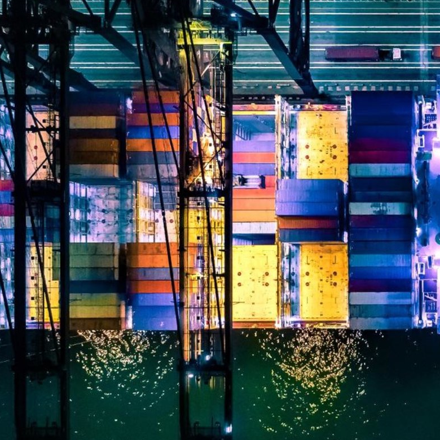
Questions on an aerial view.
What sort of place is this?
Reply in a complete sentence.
The area seen from above is a port.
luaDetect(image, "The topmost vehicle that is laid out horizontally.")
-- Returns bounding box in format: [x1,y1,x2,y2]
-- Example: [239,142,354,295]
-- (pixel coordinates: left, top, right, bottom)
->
[326,48,403,63]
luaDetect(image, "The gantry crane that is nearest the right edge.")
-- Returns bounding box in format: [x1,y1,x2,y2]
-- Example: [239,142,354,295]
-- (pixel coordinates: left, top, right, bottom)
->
[103,0,330,440]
